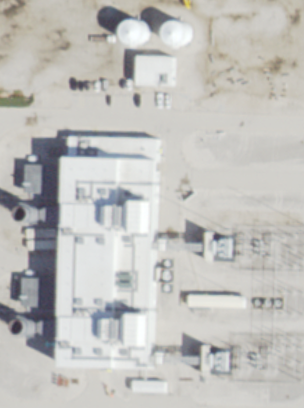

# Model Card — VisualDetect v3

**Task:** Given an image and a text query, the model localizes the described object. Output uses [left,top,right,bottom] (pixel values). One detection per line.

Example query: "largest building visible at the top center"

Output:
[134,54,176,86]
